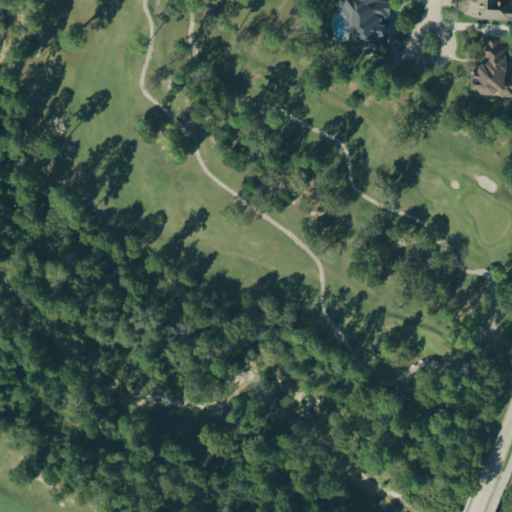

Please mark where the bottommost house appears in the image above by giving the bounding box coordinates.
[472,36,512,97]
